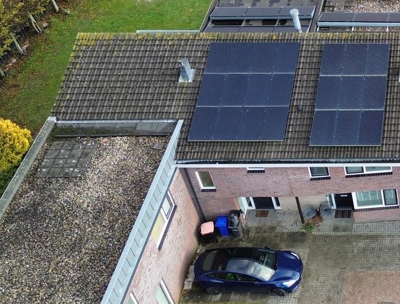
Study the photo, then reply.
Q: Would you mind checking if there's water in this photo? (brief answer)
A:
No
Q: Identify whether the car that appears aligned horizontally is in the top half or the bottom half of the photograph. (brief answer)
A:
bottom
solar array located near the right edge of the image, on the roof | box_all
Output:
[308,41,391,145]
